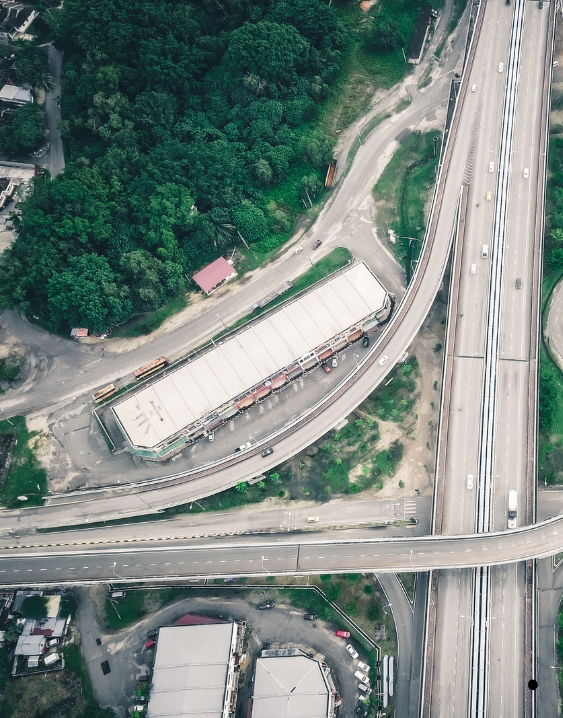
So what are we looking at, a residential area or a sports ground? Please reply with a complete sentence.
What you see here is a residential area.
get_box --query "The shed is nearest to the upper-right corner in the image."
[407,5,433,68]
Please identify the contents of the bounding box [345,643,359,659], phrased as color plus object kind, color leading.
white car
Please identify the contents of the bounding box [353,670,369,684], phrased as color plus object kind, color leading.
white car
